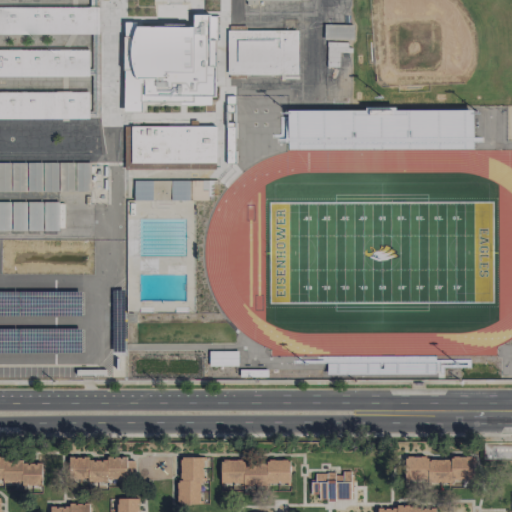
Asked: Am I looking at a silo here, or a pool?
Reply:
pool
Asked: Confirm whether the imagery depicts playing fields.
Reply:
Yes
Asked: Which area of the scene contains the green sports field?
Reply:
right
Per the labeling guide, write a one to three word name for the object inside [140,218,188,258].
swimming pool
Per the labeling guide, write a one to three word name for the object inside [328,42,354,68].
building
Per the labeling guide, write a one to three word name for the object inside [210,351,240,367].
building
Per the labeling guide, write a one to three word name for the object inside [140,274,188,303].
swimming pool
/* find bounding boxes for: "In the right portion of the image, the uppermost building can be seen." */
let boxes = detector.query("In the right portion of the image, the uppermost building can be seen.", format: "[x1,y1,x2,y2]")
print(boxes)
[326,24,355,40]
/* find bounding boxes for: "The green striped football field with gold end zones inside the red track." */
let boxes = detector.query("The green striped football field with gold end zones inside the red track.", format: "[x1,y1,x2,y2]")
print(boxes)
[266,173,499,333]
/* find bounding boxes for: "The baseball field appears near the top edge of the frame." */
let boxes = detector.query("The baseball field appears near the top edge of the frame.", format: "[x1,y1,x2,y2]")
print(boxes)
[374,0,478,85]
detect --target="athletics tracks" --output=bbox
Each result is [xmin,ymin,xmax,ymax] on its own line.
[203,150,512,358]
